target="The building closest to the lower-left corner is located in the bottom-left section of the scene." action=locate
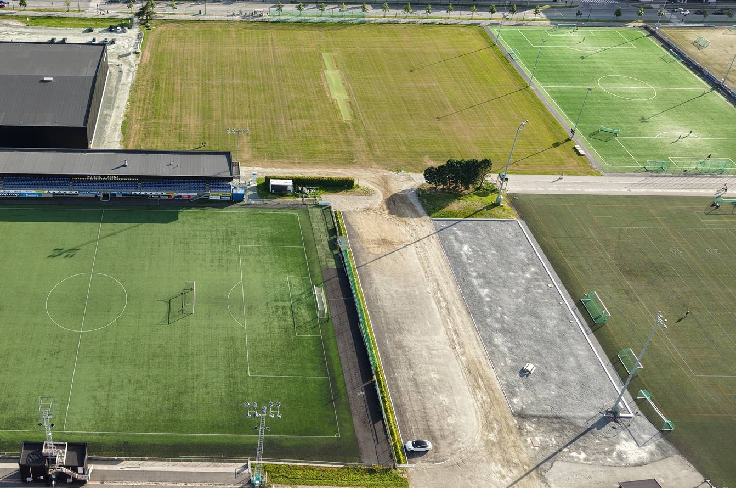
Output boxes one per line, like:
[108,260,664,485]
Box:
[17,437,91,488]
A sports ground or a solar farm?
sports ground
